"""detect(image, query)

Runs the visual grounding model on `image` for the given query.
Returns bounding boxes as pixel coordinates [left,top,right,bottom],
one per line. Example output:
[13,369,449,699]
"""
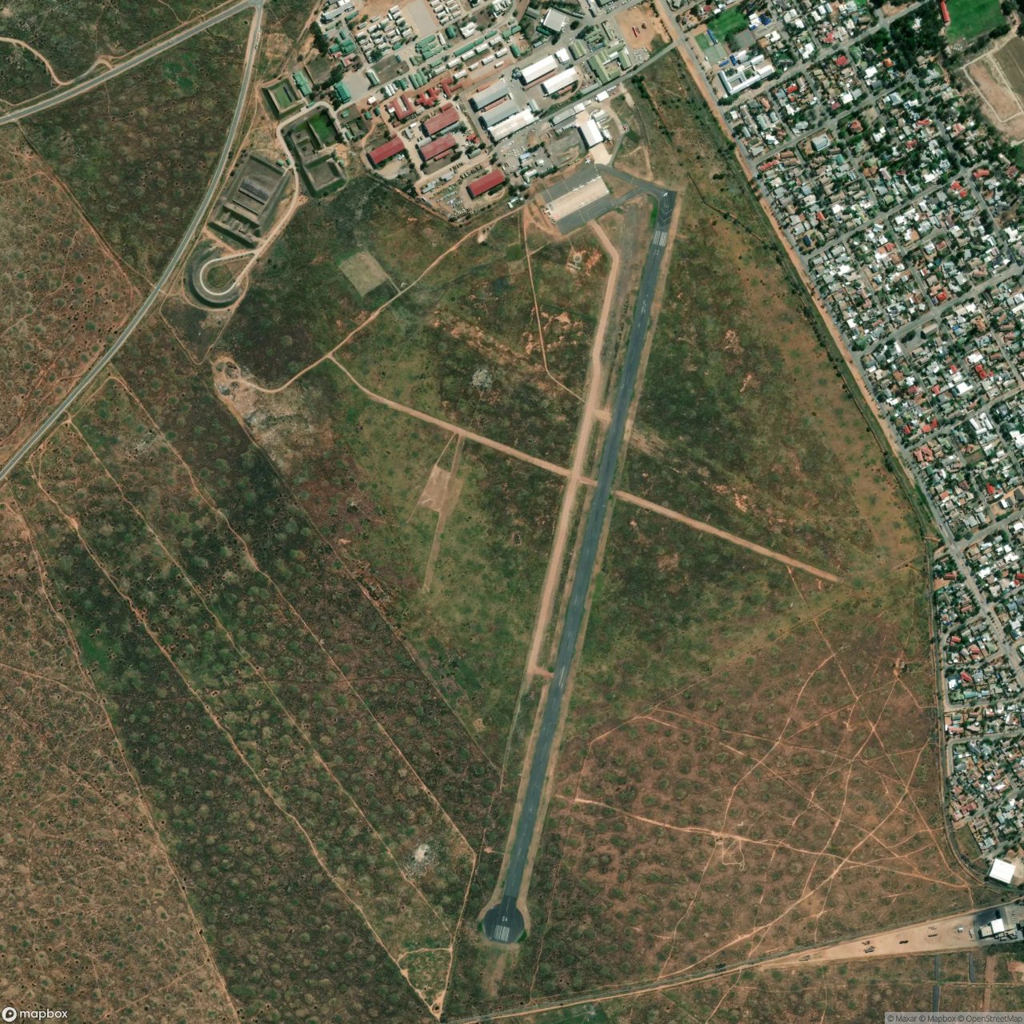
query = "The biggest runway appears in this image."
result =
[484,188,677,944]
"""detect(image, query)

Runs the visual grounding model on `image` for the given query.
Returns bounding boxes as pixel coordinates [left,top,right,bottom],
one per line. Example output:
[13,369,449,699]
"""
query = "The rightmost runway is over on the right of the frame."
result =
[613,490,838,584]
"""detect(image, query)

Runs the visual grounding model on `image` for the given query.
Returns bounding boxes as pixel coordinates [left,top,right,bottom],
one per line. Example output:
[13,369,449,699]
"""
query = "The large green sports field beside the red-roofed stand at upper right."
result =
[948,0,1005,46]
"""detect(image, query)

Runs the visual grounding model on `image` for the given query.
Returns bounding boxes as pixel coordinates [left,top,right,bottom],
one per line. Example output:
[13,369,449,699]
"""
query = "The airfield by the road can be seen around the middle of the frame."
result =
[327,111,838,993]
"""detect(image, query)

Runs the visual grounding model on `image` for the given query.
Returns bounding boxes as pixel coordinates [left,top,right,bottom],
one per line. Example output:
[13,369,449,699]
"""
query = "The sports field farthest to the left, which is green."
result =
[709,6,749,44]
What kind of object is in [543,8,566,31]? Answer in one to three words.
building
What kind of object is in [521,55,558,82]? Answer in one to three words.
building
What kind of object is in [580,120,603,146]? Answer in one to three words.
hangar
